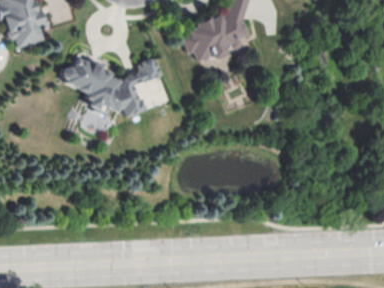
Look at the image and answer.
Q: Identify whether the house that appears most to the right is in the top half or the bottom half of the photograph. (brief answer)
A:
top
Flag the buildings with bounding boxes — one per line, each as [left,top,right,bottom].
[58,56,166,118]
[178,0,252,66]
[0,0,51,51]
